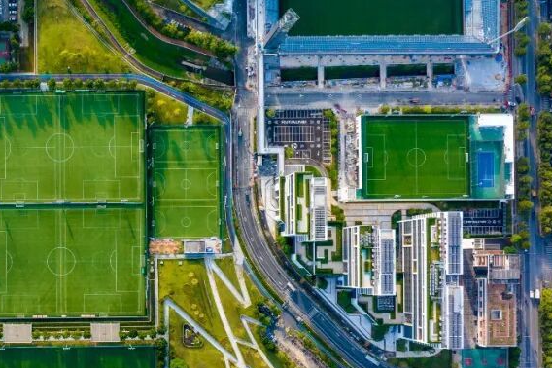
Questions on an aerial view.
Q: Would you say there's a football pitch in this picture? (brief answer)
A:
Yes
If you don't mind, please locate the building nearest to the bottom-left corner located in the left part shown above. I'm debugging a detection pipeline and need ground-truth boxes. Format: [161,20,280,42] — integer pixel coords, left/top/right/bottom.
[4,323,32,342]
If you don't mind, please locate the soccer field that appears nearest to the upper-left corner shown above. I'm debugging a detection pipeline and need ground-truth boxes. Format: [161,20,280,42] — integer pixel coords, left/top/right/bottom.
[0,91,143,201]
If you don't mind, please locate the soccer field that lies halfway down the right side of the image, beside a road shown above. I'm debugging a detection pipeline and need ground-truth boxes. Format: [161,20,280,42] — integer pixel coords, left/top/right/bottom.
[362,116,469,198]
